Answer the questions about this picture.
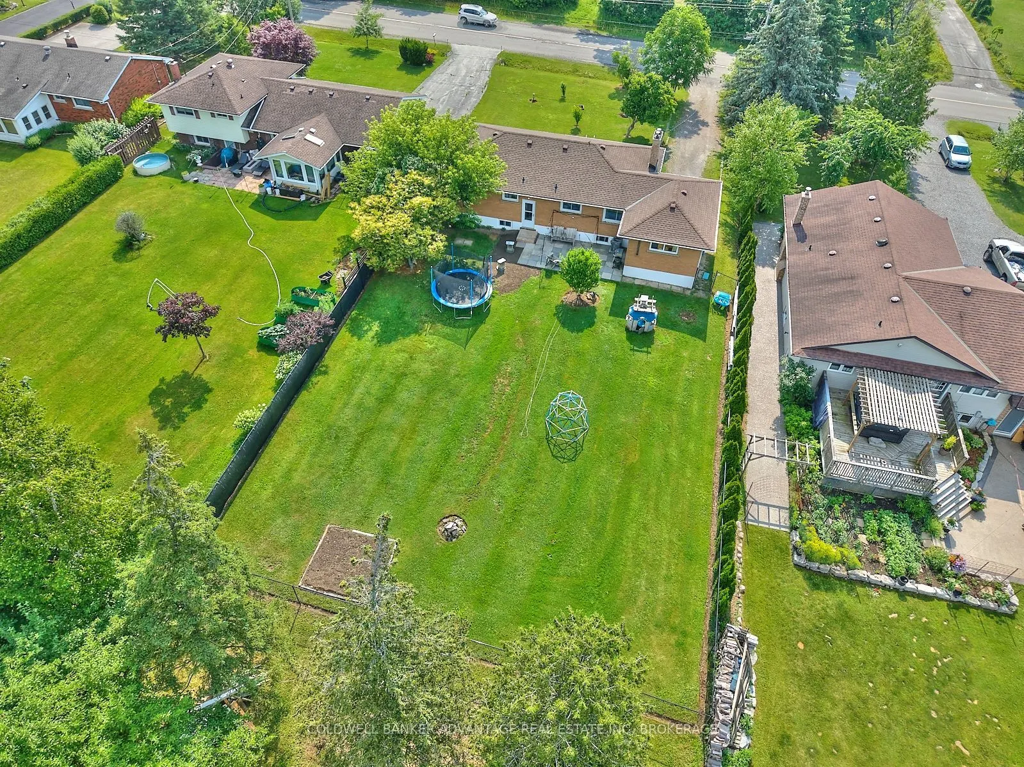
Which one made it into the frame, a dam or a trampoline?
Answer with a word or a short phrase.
trampoline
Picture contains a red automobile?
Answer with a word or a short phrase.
No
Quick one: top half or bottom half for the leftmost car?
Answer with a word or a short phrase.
top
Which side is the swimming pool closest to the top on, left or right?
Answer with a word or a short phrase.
left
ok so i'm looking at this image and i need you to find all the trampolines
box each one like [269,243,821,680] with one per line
[427,249,492,322]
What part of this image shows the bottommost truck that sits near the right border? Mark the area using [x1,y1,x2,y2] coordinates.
[975,233,1024,271]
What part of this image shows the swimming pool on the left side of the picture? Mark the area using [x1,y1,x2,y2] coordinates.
[129,153,173,178]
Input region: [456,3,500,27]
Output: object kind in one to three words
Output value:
car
